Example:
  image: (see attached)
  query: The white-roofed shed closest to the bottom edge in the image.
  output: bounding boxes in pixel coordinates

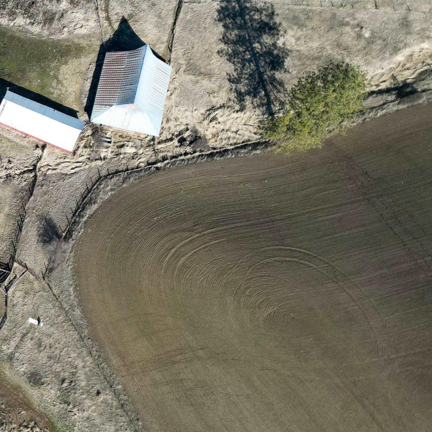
[0,90,86,155]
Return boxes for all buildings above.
[0,90,86,155]
[90,44,171,137]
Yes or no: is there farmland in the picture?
Yes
